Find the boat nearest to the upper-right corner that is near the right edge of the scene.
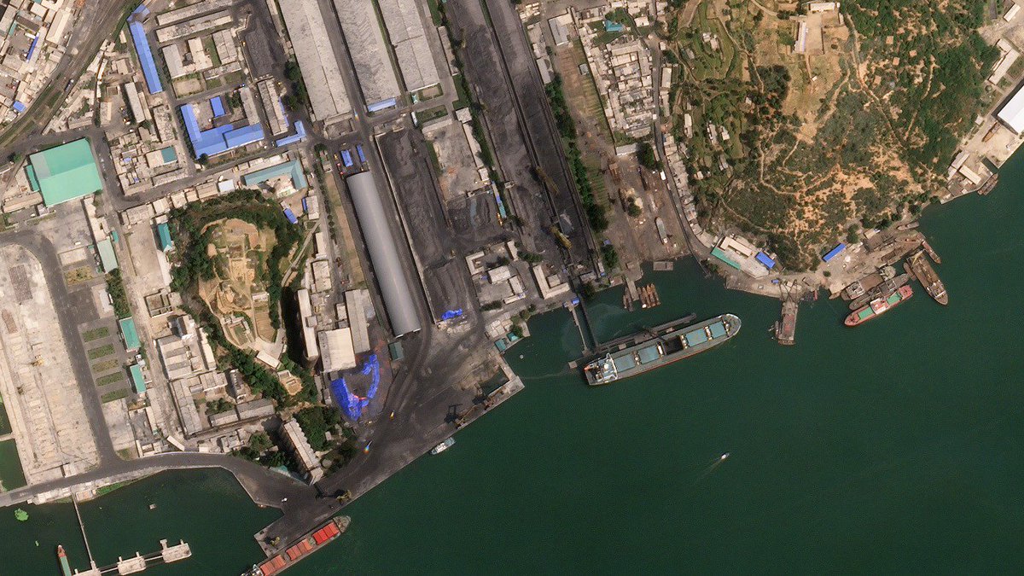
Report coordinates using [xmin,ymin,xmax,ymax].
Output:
[983,123,998,142]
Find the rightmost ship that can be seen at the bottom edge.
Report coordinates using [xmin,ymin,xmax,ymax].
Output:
[243,517,352,576]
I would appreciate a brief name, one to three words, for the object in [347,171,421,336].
building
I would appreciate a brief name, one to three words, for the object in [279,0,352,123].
shed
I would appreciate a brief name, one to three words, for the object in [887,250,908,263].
boat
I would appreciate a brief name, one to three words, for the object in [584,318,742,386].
ship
